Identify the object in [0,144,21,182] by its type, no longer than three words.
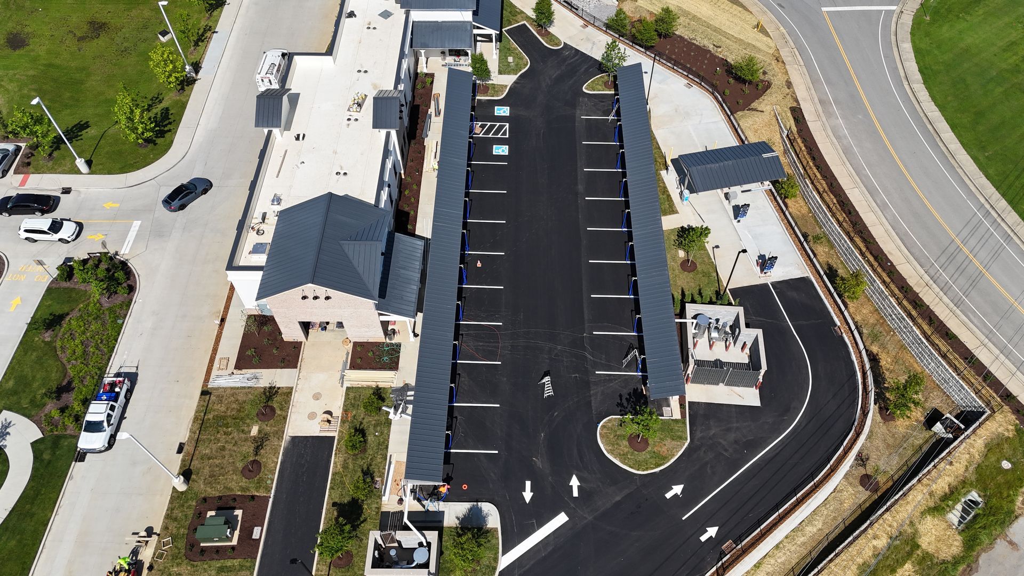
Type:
car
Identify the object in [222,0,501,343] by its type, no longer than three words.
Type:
building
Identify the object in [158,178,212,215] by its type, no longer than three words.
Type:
car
